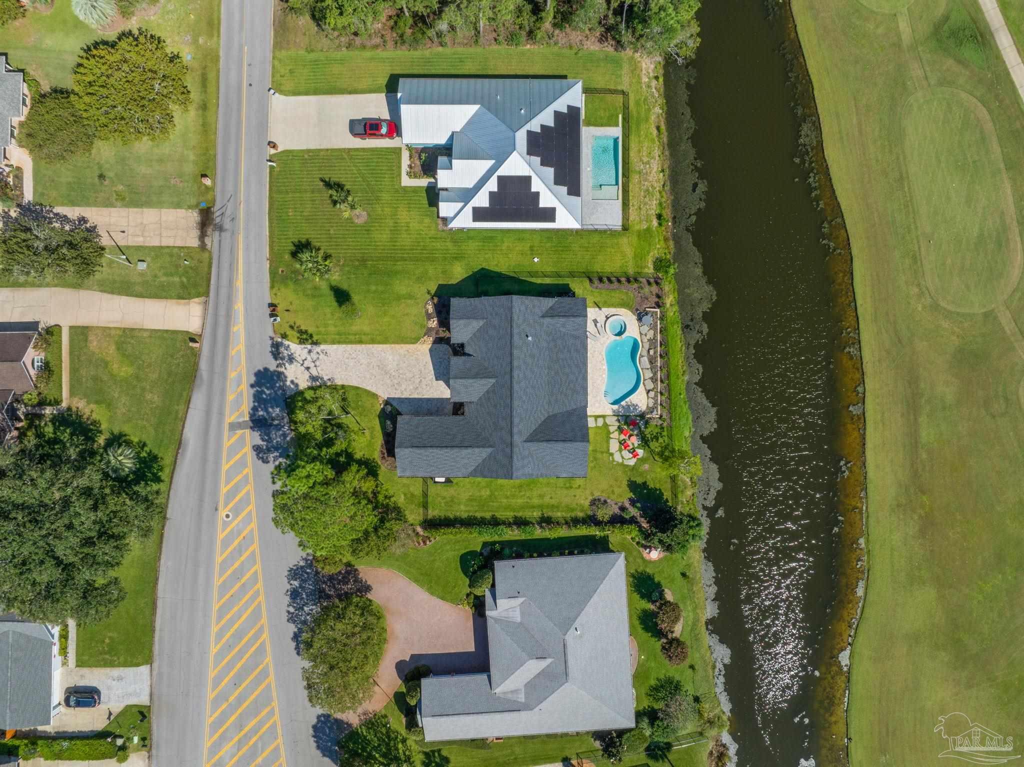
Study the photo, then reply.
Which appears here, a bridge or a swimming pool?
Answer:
swimming pool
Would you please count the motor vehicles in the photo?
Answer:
two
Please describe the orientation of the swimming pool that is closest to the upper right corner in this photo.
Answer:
vertically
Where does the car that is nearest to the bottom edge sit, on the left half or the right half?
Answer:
left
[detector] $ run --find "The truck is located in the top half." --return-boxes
[351,118,398,140]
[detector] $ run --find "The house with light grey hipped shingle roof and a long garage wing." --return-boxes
[421,551,635,750]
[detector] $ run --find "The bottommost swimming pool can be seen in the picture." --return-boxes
[602,334,643,407]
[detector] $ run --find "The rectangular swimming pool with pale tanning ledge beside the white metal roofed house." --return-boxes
[590,134,621,201]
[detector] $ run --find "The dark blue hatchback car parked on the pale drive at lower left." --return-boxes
[64,694,101,714]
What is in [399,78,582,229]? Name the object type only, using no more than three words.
house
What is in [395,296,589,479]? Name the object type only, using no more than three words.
house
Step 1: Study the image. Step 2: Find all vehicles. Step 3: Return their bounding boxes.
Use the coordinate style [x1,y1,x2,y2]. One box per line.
[351,118,398,140]
[64,694,101,714]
